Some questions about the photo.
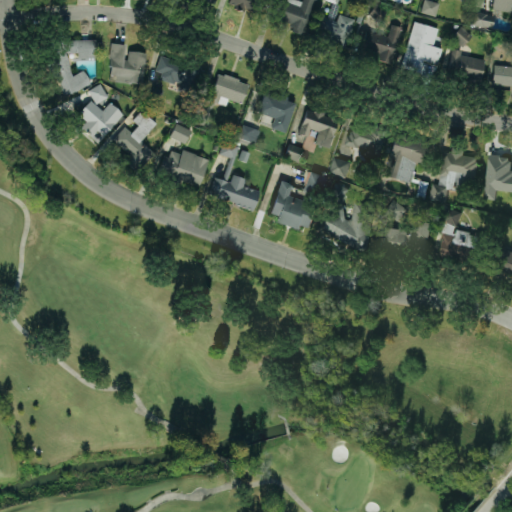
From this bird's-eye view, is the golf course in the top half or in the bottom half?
bottom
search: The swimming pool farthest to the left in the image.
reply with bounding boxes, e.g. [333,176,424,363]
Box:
[76,61,96,80]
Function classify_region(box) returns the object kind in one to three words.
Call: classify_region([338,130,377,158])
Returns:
house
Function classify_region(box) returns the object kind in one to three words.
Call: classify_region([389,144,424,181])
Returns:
house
